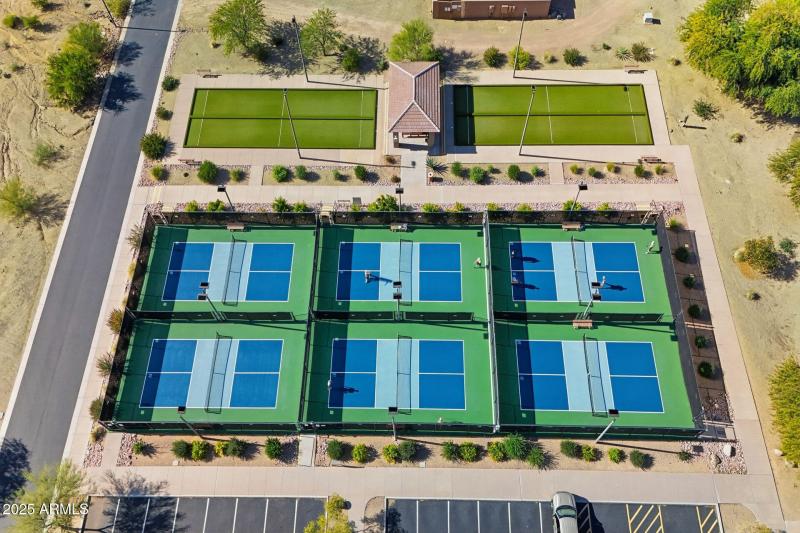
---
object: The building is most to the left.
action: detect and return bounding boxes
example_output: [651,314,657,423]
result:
[388,61,442,158]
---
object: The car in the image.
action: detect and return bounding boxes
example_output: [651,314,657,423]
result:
[553,493,581,533]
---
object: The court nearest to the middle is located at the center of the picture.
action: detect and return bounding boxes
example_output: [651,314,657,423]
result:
[311,224,487,321]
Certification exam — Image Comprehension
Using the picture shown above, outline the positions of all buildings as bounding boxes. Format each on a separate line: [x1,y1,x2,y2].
[433,0,552,20]
[388,61,442,158]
